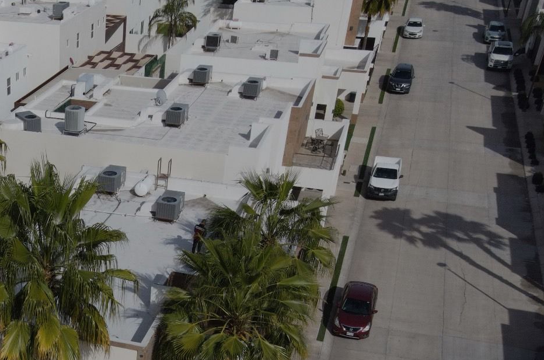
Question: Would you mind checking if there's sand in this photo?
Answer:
No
